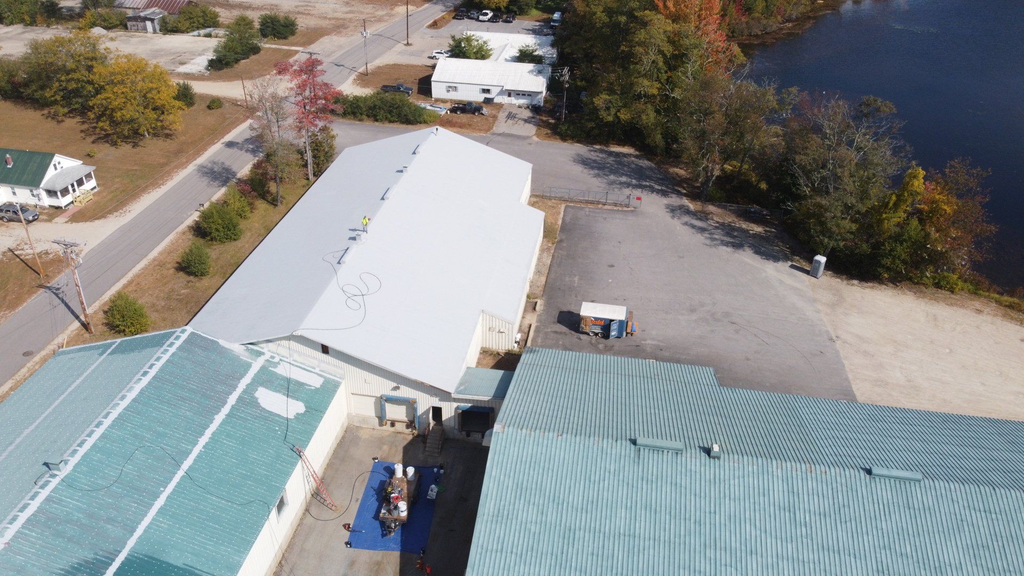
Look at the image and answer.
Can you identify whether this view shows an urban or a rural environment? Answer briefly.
urban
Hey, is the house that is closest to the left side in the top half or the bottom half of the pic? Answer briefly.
top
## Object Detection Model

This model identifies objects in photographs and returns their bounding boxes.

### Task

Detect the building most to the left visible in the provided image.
[0,148,99,213]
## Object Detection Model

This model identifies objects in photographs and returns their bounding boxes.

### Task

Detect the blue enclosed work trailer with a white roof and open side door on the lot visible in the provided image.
[579,302,635,340]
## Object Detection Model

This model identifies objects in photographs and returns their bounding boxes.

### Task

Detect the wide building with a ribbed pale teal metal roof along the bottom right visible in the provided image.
[468,347,1024,576]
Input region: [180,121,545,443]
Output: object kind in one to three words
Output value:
warehouse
